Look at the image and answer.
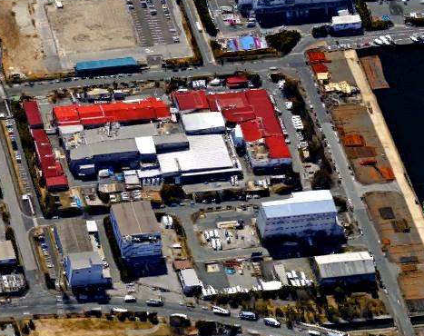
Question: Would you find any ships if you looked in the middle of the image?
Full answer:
No, no ship can be made out in the middle of the image.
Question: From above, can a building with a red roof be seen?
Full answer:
Yes, I can see a building with a red roof in this picture.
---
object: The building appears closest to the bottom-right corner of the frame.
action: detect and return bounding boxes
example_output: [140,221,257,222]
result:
[314,251,376,286]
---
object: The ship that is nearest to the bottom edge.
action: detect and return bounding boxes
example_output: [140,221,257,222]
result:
[360,56,390,89]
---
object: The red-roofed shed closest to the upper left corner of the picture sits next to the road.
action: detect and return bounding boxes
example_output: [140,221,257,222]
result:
[22,100,44,131]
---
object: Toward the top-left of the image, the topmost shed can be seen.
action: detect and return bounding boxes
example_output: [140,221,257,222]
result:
[74,56,140,74]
